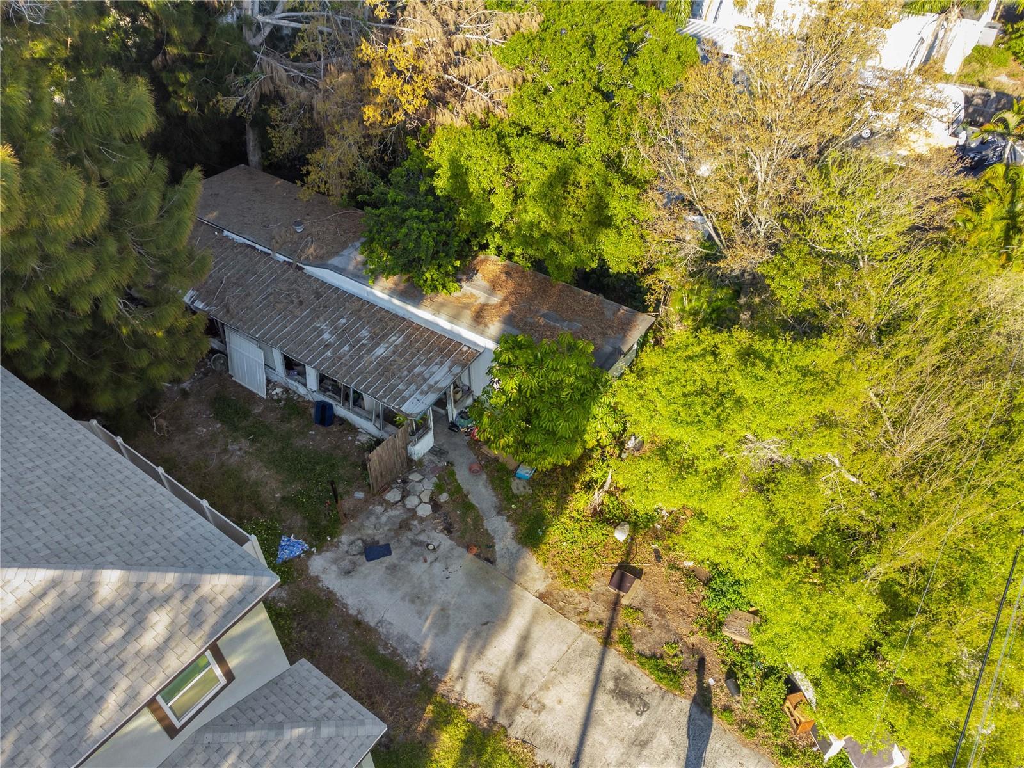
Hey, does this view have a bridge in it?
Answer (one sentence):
No, no bridge can be seen from above.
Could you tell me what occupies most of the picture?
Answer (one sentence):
Most of the picture is covered by trees.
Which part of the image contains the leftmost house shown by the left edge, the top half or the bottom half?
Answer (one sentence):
The bottom half of the photo is where the leftmost house shown by the left edge is.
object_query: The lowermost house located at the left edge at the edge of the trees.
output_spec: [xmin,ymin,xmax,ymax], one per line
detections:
[0,375,391,768]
